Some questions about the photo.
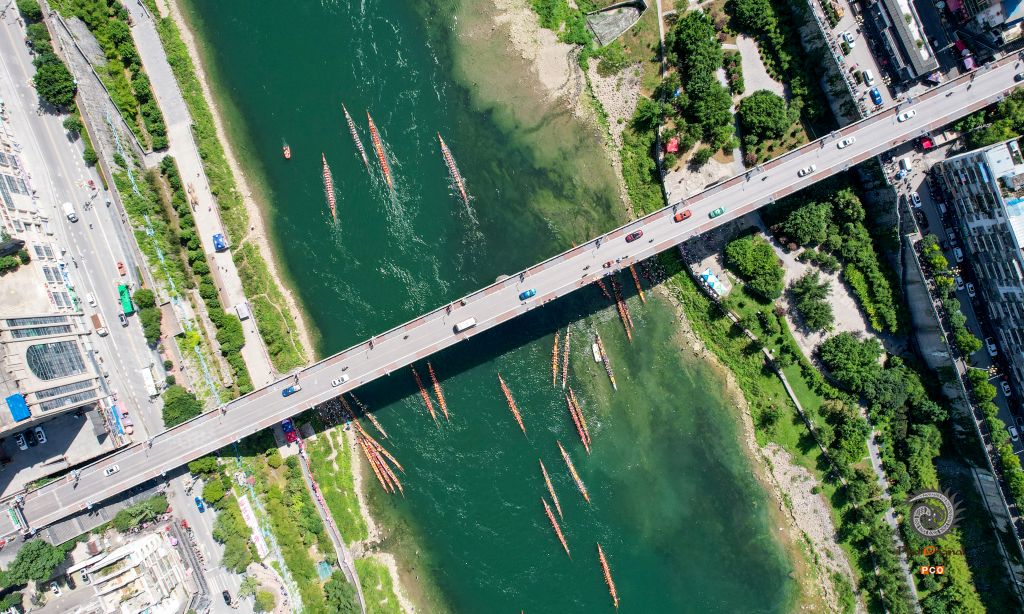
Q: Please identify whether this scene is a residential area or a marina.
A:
marina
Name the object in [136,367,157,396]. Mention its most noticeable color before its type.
white bus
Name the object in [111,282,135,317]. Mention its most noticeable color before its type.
green truck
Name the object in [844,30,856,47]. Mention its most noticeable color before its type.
white vehicle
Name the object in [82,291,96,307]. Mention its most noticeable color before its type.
white vehicle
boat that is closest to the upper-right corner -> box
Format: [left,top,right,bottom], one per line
[629,263,646,304]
